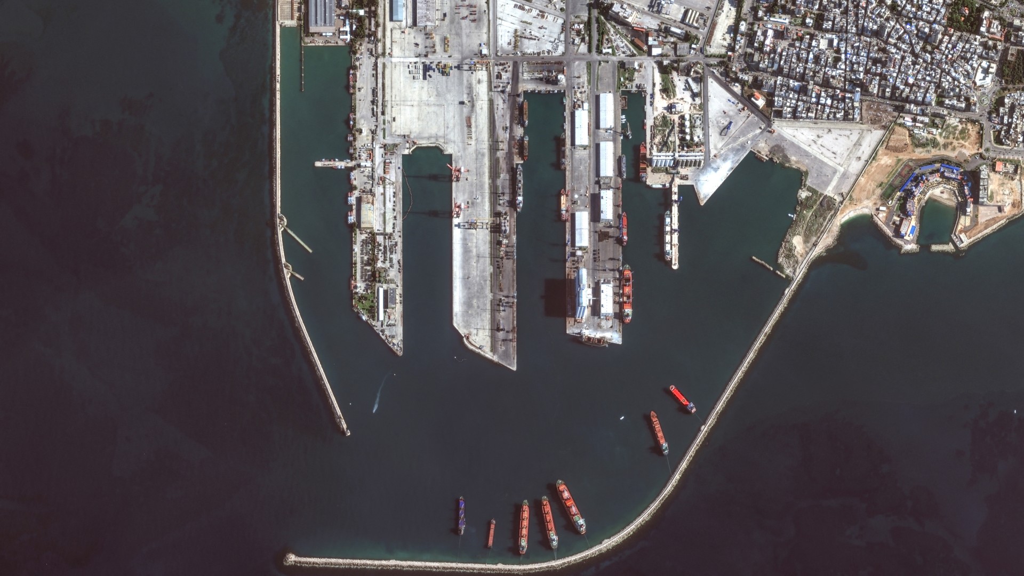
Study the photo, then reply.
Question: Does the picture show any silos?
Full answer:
Yes, you can see a silo in this photo.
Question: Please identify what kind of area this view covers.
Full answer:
This looks like a port.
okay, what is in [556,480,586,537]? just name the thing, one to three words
ship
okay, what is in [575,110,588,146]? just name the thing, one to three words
building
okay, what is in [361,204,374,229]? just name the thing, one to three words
building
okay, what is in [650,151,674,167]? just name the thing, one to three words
silo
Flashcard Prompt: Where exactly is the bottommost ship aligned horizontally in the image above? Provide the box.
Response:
[579,334,609,347]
